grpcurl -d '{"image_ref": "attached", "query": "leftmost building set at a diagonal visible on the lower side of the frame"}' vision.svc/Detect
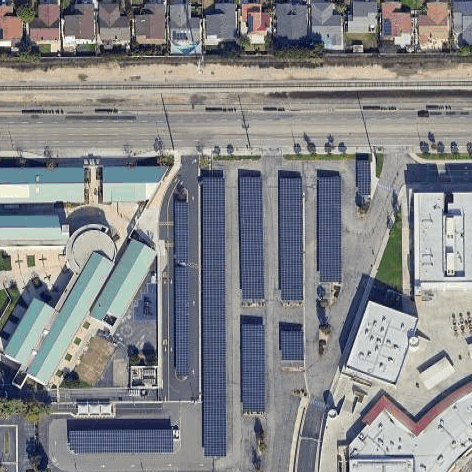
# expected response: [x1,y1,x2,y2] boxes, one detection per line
[3,298,55,366]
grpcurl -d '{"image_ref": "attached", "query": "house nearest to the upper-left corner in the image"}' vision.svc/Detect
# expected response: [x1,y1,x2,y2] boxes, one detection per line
[0,7,23,46]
